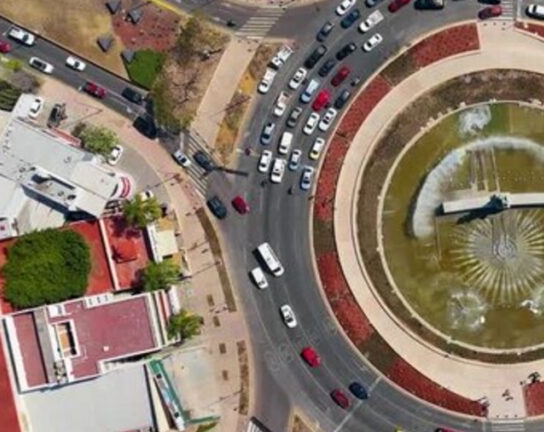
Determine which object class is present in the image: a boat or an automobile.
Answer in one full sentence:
I can see an automobile in this picture.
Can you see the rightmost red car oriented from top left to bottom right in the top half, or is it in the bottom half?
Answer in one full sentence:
The bottom half of the photo is where the rightmost red car oriented from top left to bottom right is.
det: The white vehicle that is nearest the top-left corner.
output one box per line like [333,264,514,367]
[7,27,35,45]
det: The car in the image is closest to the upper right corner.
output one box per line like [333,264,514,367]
[527,4,544,17]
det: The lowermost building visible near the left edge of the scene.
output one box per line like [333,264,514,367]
[25,357,158,432]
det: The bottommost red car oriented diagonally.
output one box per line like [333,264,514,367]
[330,387,350,408]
